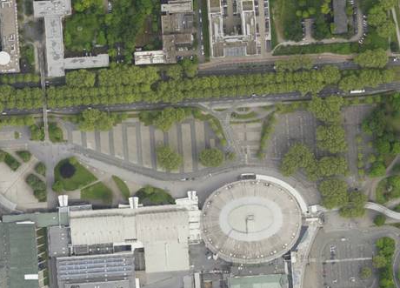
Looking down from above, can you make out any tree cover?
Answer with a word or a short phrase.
Yes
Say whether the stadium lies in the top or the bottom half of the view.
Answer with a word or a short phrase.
bottom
